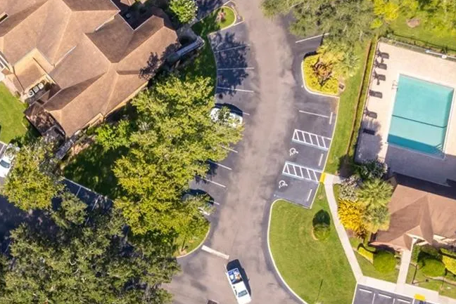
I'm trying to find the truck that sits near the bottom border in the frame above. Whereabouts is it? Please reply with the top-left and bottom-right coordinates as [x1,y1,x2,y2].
[224,261,251,303]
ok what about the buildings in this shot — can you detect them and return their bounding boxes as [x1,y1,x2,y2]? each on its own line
[370,170,456,254]
[0,0,186,147]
